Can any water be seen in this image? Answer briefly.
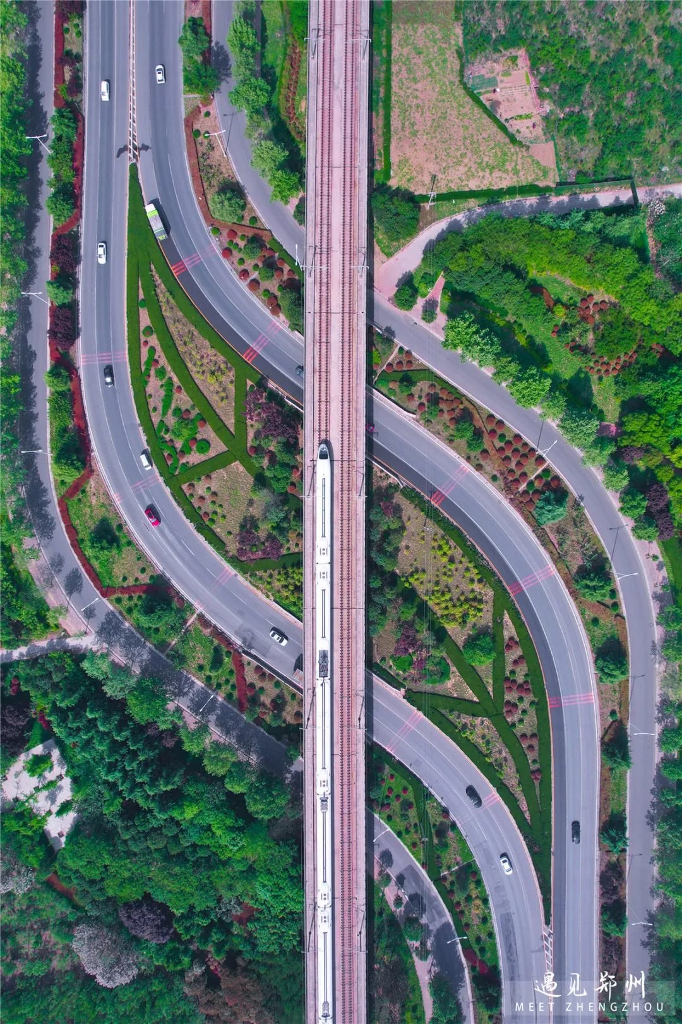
No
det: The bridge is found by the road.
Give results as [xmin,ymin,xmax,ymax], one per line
[303,0,370,1024]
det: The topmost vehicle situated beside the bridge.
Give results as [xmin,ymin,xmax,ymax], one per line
[290,364,304,381]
